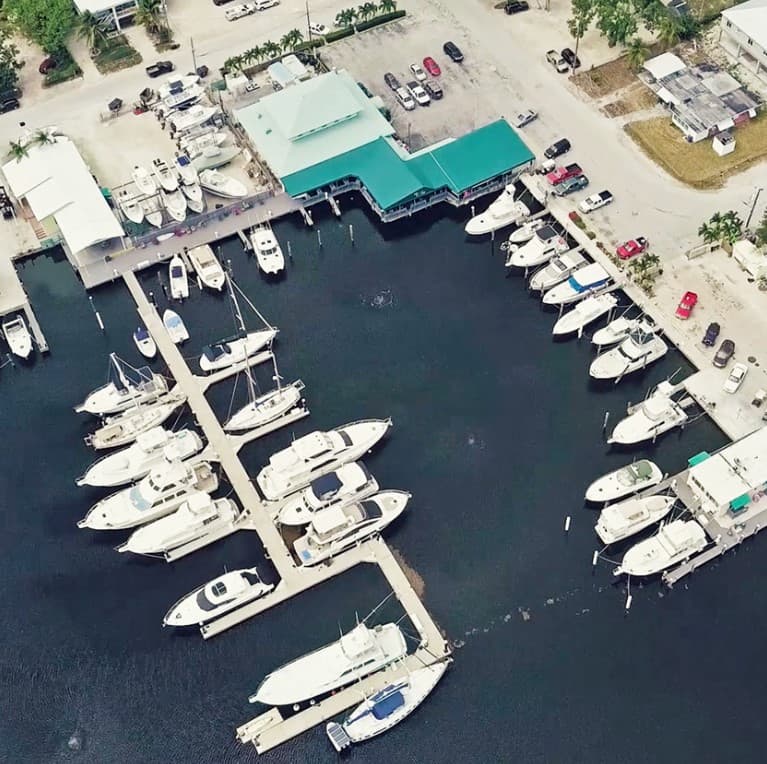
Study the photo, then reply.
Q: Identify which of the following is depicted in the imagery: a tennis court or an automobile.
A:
automobile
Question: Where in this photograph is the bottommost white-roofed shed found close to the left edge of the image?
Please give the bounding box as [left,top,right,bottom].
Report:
[1,141,125,275]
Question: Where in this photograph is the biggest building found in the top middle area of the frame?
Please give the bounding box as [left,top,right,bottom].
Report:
[233,69,535,228]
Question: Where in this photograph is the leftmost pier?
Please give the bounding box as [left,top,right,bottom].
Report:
[22,303,49,358]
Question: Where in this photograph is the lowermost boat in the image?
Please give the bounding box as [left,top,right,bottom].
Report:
[327,723,356,759]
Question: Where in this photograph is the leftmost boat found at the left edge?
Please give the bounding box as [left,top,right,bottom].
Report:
[1,317,29,360]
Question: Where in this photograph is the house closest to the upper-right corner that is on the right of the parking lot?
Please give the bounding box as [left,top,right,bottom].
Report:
[715,1,767,88]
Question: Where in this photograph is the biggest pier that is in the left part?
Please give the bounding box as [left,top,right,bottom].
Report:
[124,274,454,757]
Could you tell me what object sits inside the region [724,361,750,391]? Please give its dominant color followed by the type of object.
white car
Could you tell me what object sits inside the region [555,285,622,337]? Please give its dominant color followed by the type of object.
white boat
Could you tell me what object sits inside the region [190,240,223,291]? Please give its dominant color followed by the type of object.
white boat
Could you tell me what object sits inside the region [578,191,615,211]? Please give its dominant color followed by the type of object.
white vehicle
